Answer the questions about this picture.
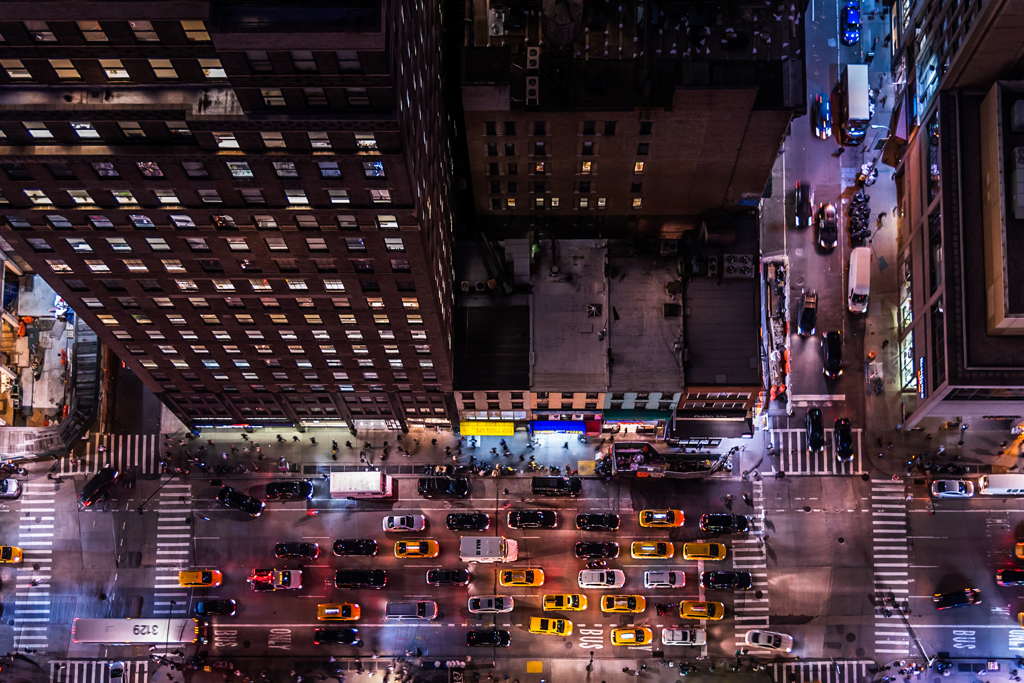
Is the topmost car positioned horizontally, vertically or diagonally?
vertically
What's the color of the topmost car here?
blue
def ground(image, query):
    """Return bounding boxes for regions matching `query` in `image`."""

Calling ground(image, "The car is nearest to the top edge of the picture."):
[841,2,862,45]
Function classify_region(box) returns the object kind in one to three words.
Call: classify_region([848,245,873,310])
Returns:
vehicle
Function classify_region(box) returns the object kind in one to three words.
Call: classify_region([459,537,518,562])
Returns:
truck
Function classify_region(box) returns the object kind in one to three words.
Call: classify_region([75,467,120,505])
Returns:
car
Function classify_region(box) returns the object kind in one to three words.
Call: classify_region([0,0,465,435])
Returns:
building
